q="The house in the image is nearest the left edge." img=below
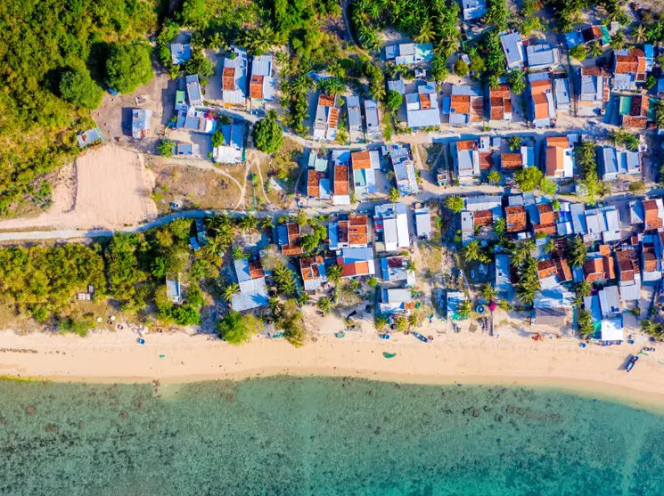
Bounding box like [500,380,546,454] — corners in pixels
[77,126,103,148]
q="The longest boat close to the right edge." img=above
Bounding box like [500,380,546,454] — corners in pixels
[624,354,640,374]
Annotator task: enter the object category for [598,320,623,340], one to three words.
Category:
house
